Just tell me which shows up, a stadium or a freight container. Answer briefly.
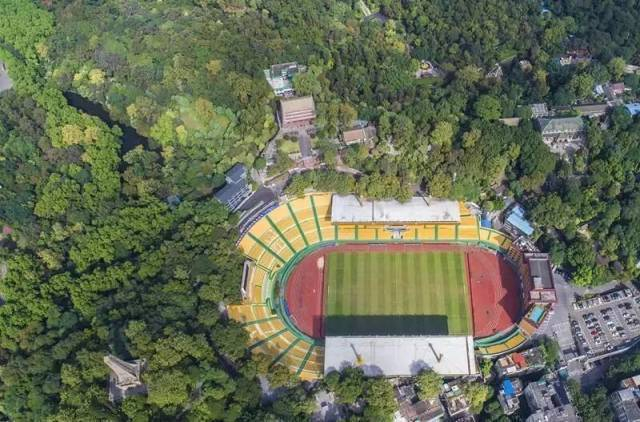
stadium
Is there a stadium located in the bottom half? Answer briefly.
Yes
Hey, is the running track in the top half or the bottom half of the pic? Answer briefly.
bottom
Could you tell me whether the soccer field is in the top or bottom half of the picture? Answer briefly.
bottom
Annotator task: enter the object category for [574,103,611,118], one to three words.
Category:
building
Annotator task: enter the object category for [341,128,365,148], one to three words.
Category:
house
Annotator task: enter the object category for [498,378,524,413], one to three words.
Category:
building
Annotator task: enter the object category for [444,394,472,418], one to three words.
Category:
house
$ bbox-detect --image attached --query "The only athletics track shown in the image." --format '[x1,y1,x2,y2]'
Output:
[284,241,520,341]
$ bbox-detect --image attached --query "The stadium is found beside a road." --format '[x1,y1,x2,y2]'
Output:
[234,189,524,393]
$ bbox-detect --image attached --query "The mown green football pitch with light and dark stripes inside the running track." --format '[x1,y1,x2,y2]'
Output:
[324,250,471,338]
